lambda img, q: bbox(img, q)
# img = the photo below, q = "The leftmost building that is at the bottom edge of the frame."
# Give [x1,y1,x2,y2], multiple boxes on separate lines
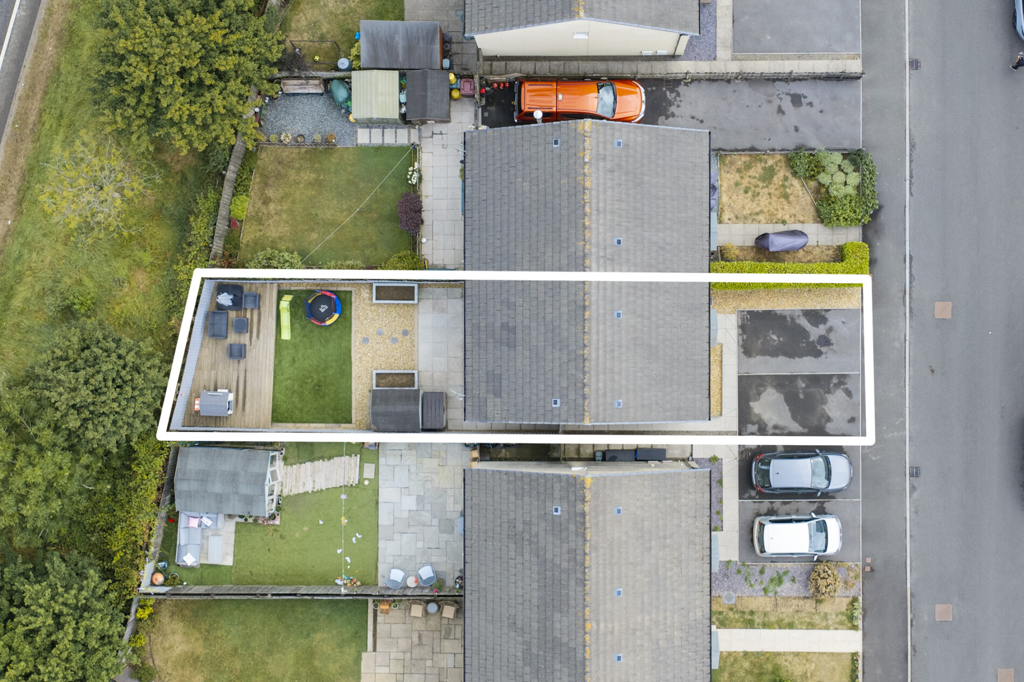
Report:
[461,460,719,682]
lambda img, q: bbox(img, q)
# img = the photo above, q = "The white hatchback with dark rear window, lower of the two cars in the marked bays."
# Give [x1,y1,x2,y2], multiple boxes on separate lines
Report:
[751,512,841,563]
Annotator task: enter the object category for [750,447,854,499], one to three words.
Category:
car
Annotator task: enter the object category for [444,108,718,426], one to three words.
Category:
house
